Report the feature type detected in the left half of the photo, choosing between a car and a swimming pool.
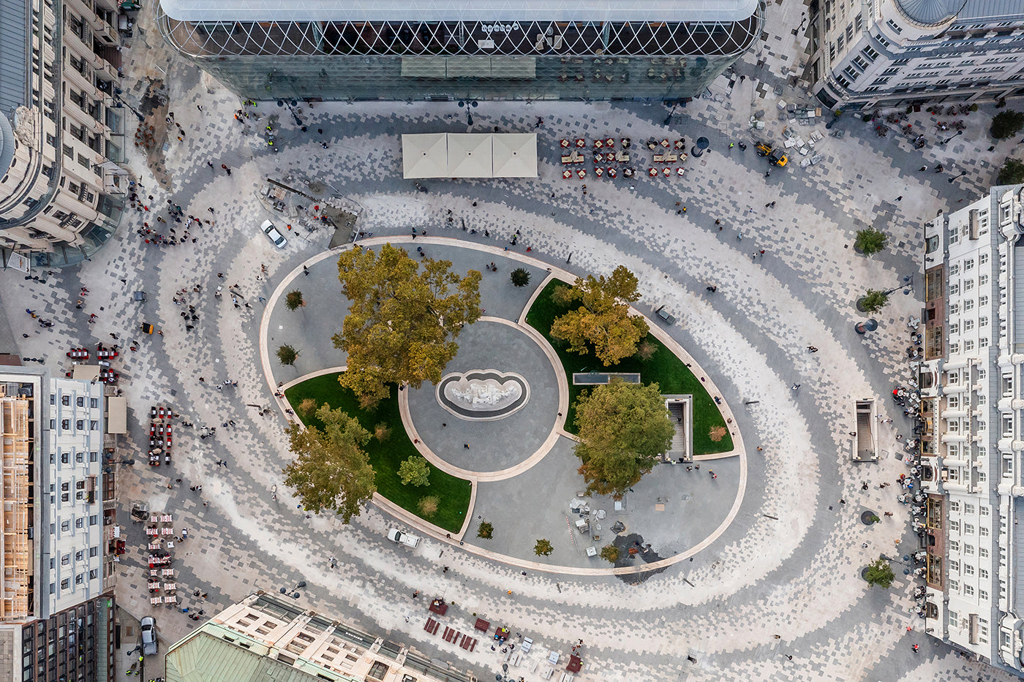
car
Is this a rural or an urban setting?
urban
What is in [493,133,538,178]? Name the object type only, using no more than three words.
umbrella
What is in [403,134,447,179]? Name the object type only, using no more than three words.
umbrella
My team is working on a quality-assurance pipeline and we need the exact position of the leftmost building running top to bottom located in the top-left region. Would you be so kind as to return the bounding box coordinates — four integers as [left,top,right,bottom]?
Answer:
[0,0,126,269]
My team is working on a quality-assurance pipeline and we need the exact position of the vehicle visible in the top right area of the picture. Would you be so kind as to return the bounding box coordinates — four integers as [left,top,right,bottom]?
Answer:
[749,141,789,166]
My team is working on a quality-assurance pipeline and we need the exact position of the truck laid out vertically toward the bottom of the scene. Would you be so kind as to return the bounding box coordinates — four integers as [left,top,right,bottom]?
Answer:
[138,613,159,657]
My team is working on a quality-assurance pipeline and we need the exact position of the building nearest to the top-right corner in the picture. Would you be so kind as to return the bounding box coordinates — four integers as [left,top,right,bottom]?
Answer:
[808,0,1024,110]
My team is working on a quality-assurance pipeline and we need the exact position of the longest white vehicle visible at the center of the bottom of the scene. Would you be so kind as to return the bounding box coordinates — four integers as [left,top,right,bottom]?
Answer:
[386,527,423,551]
